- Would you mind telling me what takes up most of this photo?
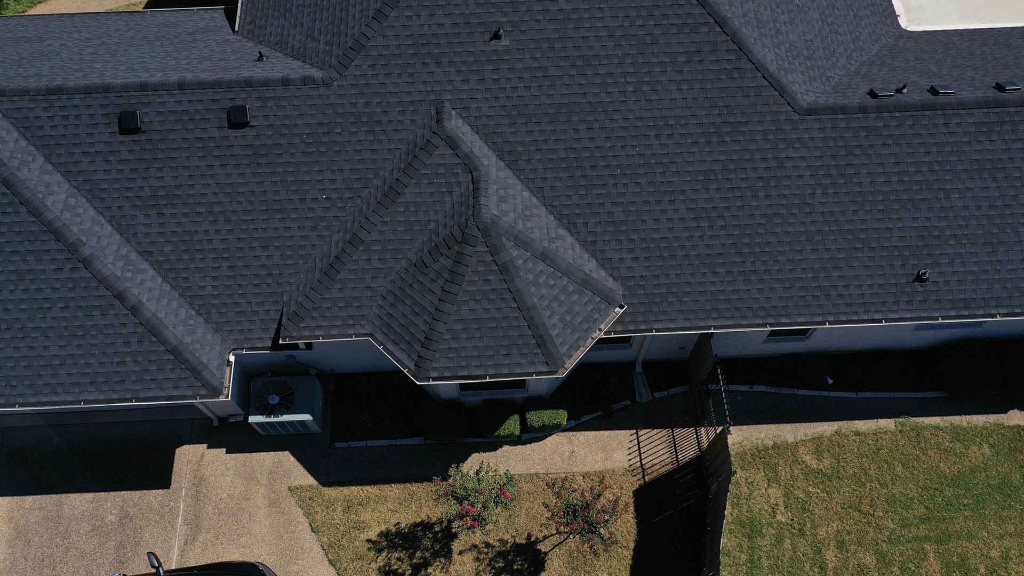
buildings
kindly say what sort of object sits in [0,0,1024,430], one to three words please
house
